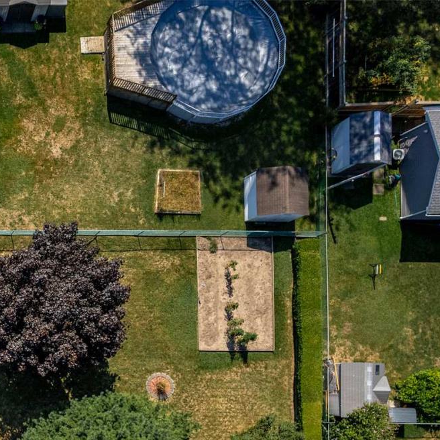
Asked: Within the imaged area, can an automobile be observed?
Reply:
No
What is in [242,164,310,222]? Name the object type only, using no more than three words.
shed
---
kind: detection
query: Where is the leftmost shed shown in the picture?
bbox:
[0,0,68,31]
